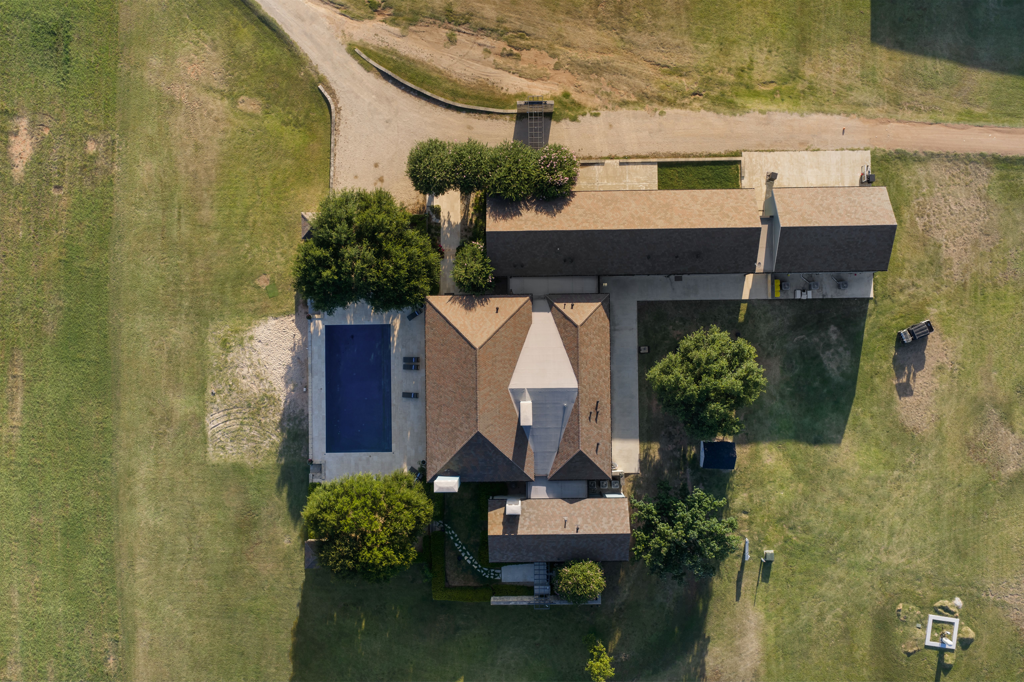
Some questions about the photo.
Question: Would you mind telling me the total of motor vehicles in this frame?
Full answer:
In total, there is 1 motor vehicle in the scene.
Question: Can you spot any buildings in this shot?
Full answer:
Yes, a building appears in the view.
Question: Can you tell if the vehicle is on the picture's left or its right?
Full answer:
It is on the right.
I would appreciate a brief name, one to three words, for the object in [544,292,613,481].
house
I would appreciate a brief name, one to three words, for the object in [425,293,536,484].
house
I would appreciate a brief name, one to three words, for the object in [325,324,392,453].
swimming pool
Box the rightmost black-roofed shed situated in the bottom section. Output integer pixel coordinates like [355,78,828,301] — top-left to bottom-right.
[700,441,737,469]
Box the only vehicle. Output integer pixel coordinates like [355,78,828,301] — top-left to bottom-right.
[898,319,934,343]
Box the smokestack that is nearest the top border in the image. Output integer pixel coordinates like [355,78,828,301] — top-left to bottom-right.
[520,402,532,426]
